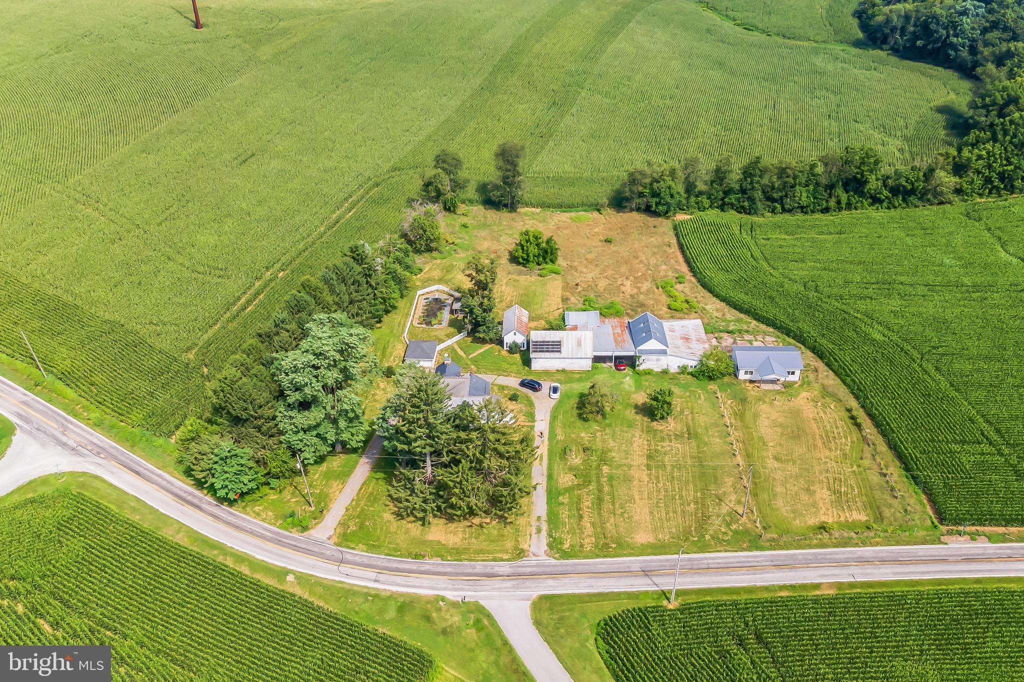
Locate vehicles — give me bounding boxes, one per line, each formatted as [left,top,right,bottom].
[518,379,544,393]
[549,382,561,400]
[615,355,627,369]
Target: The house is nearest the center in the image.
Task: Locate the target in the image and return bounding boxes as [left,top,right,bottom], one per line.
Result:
[502,303,528,350]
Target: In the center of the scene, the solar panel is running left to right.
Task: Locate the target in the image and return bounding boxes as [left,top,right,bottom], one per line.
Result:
[532,339,561,353]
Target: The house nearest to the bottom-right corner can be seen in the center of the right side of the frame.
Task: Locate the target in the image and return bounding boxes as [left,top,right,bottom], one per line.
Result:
[730,346,804,389]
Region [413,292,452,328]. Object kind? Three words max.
swimming pool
